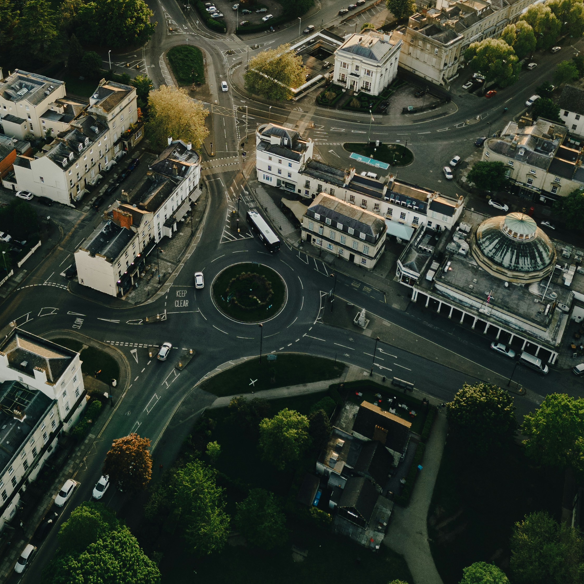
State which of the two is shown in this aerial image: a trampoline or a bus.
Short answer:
bus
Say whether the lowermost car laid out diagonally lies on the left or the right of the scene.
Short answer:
left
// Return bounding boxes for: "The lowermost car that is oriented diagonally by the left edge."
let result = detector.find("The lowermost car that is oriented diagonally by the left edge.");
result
[13,541,39,576]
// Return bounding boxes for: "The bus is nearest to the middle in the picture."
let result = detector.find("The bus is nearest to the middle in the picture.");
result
[246,207,284,257]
